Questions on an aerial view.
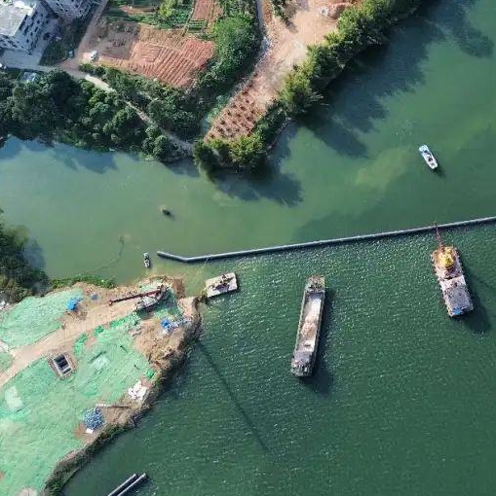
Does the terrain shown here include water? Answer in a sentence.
Yes, the picture does contain water.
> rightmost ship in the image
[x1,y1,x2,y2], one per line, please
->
[432,223,473,317]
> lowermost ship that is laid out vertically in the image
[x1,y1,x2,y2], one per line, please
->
[289,277,328,377]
